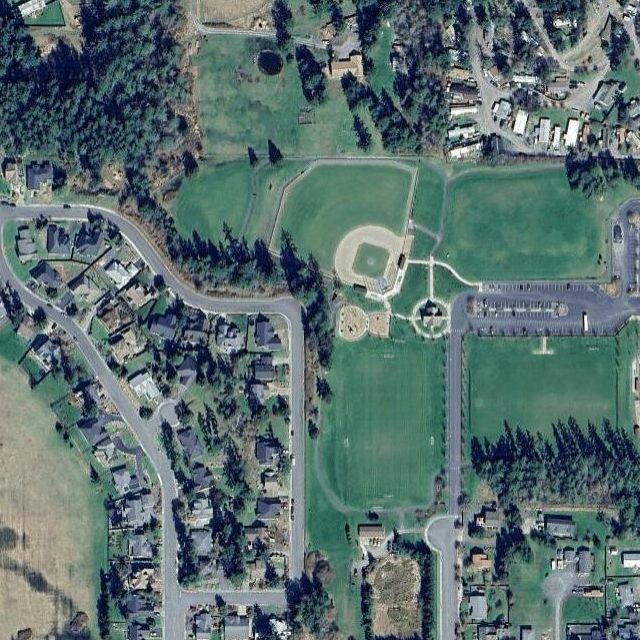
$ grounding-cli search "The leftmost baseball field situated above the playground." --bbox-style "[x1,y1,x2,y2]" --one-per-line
[265,158,419,295]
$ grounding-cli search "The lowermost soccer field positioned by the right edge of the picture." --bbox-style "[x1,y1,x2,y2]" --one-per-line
[470,340,616,433]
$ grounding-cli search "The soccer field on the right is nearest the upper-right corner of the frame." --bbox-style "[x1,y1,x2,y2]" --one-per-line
[443,171,600,279]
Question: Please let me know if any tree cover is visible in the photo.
Yes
